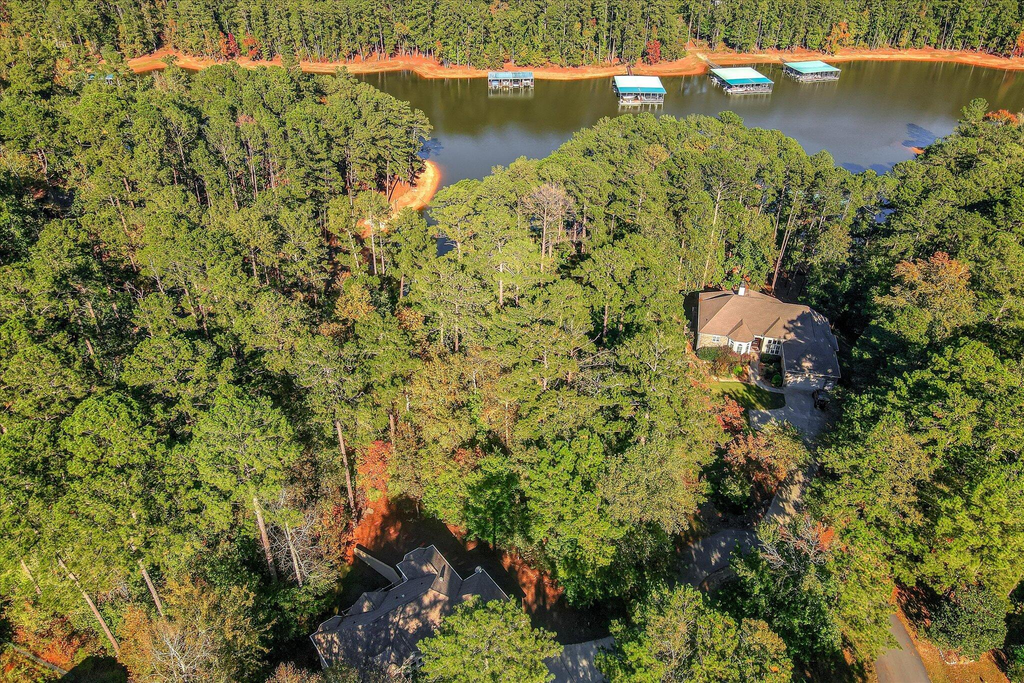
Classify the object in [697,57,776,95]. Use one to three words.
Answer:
pier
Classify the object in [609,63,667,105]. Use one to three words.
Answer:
pier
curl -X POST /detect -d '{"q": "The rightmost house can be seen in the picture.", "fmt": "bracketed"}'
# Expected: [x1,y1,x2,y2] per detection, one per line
[697,285,846,395]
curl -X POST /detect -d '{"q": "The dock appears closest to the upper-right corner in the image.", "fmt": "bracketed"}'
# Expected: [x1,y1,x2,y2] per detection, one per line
[771,56,842,83]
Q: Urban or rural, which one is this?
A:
rural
